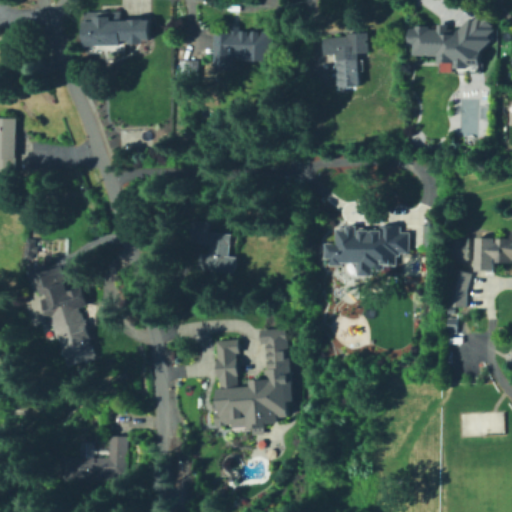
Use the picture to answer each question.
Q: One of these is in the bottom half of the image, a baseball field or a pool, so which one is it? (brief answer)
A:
pool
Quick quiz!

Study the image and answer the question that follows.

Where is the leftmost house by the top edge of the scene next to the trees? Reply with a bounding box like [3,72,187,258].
[80,11,148,48]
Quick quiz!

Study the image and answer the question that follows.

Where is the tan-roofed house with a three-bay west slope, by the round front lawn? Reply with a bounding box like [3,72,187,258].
[474,237,512,271]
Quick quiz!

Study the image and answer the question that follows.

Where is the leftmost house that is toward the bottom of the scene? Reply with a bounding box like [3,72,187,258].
[36,268,94,362]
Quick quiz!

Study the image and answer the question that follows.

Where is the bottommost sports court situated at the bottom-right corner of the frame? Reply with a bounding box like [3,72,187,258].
[461,410,506,438]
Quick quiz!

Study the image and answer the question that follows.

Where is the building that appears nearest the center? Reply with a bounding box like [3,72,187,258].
[204,233,238,276]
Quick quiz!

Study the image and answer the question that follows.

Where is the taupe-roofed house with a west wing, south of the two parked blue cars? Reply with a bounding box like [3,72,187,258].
[60,436,130,486]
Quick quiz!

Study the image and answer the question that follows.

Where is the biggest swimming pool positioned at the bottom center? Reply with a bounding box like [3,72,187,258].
[243,459,271,486]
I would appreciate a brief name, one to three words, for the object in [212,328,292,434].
house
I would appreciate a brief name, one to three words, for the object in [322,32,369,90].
house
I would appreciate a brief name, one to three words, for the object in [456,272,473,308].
building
